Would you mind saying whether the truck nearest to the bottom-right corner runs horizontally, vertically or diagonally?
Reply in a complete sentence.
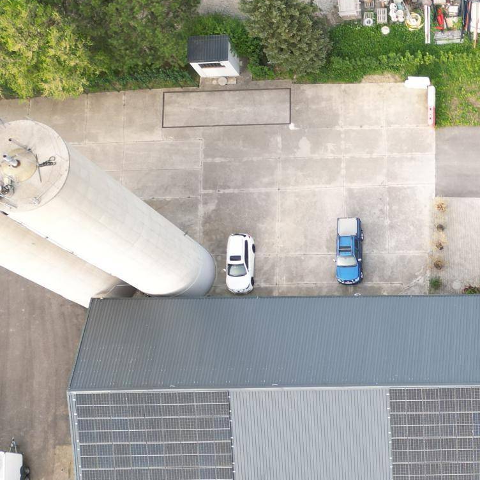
In this picture, the truck nearest to the bottom-right corner is oriented vertically.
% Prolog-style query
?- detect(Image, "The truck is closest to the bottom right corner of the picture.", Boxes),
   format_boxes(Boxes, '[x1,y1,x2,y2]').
[333,215,365,286]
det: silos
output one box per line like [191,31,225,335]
[0,208,134,306]
[0,111,214,294]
